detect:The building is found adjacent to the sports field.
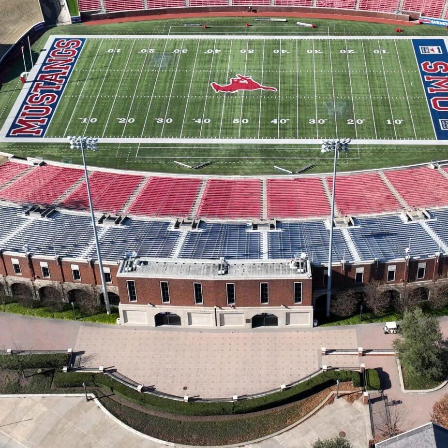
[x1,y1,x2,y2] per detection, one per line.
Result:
[112,257,315,328]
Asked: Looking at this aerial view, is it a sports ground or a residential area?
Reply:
sports ground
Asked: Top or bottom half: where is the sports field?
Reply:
top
